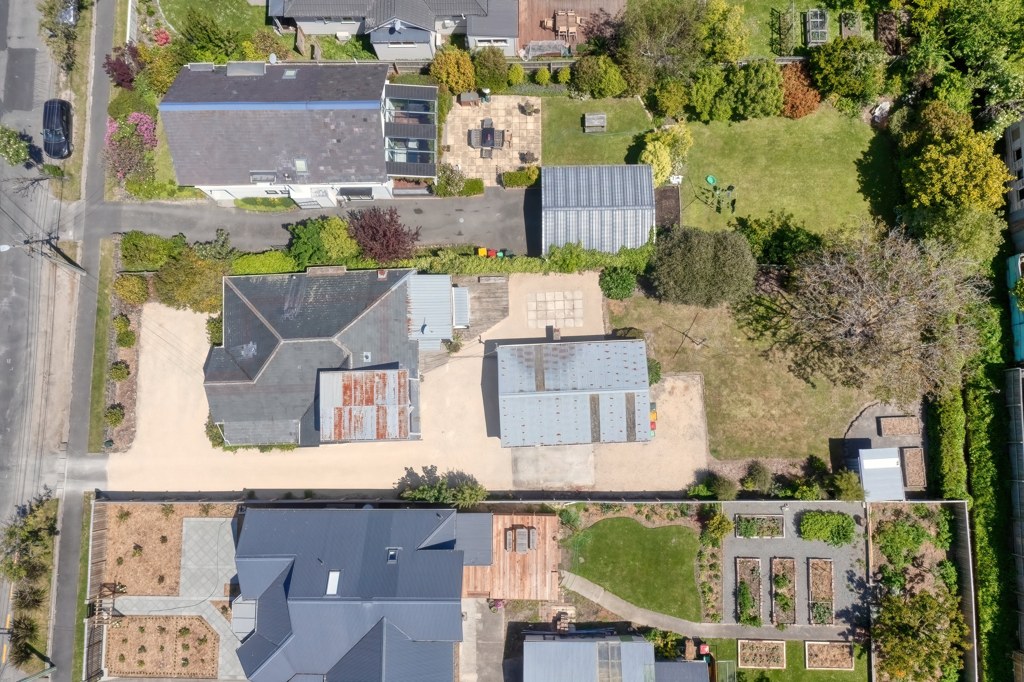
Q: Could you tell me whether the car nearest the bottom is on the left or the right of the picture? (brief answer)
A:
left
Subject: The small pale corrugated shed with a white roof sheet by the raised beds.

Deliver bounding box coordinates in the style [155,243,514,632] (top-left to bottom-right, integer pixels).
[845,448,905,502]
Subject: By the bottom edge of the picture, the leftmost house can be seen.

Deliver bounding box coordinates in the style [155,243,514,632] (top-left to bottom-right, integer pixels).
[230,508,494,682]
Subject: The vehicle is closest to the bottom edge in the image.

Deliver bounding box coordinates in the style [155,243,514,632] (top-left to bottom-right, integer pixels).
[39,97,77,161]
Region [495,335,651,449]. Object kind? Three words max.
building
